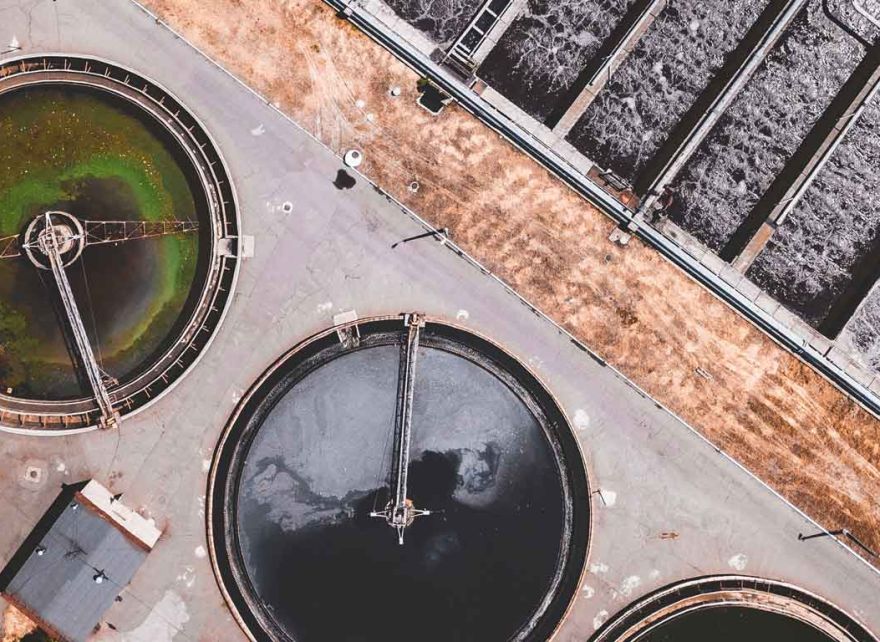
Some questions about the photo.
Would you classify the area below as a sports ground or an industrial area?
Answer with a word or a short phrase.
industrial area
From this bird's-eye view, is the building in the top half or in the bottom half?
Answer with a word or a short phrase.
bottom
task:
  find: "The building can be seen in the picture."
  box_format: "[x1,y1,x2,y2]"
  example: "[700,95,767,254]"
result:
[0,480,162,642]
